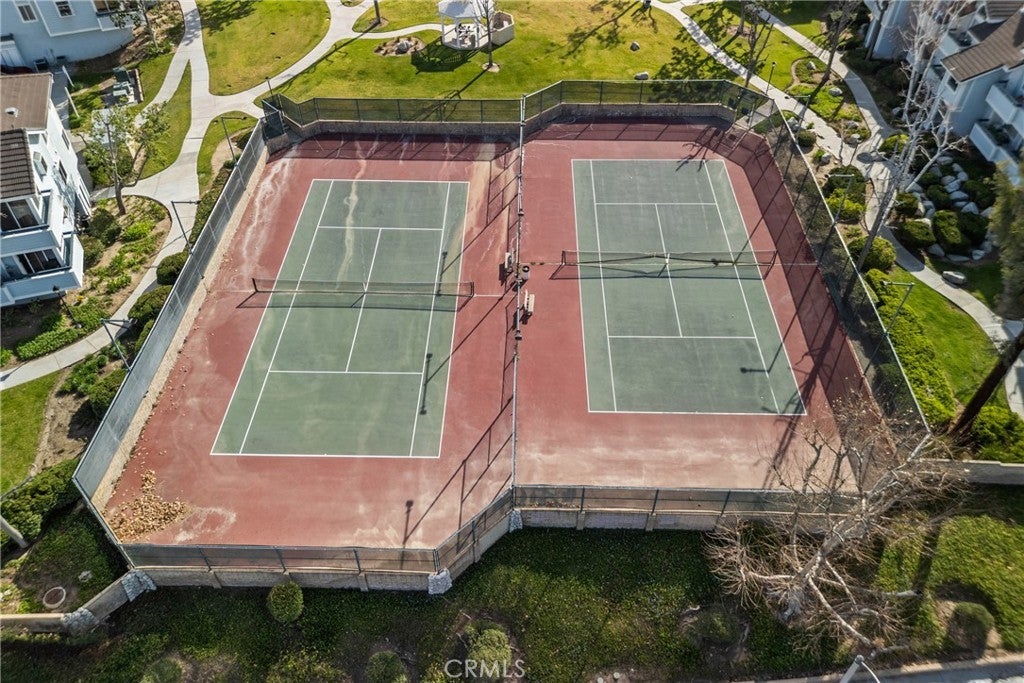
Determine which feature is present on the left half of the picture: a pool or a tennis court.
tennis court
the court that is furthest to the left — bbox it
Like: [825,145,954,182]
[104,134,519,568]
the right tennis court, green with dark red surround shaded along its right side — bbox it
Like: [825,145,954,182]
[513,117,898,512]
